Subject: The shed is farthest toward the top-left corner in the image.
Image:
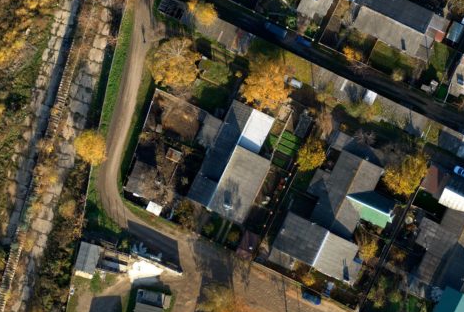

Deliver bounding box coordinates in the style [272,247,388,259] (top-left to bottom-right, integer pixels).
[158,0,186,19]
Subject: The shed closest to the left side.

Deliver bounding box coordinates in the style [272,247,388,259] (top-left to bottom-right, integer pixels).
[75,241,104,274]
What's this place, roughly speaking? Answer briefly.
residential area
